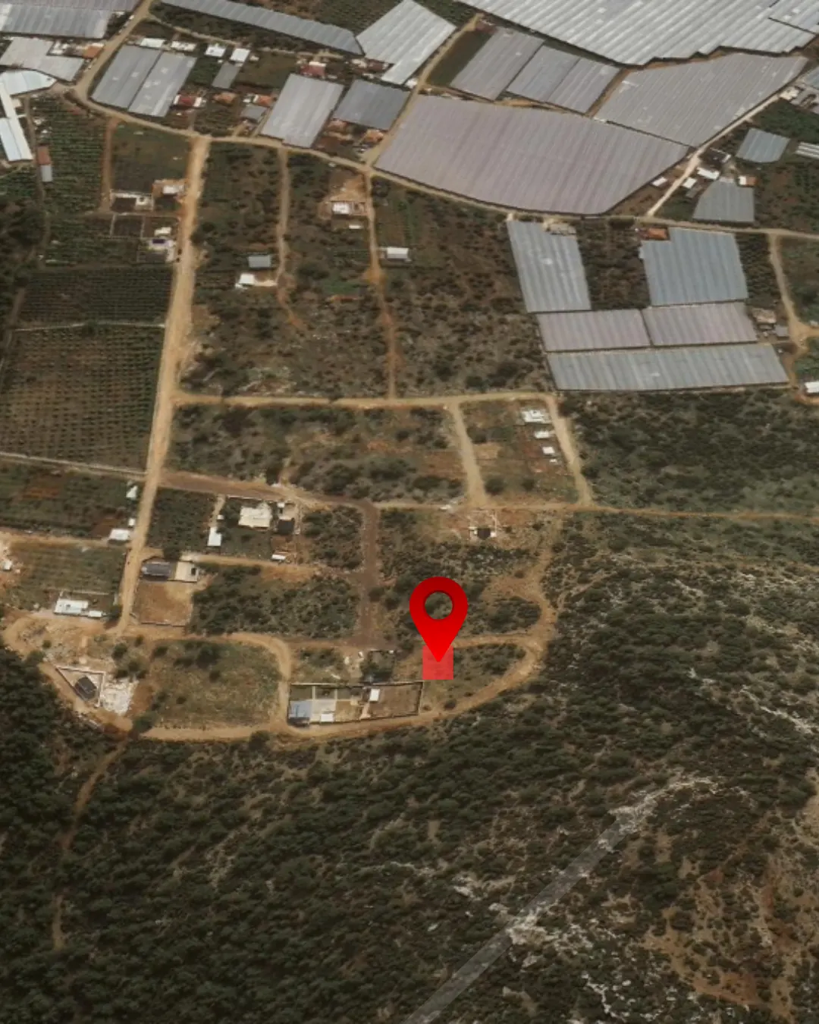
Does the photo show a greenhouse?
Yes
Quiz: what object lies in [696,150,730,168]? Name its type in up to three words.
shed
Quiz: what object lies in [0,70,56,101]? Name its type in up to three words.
building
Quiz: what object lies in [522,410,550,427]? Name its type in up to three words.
house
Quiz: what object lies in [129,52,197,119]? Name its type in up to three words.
greenhouse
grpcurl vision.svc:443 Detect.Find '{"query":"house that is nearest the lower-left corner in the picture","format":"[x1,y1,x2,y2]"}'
[75,677,97,704]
